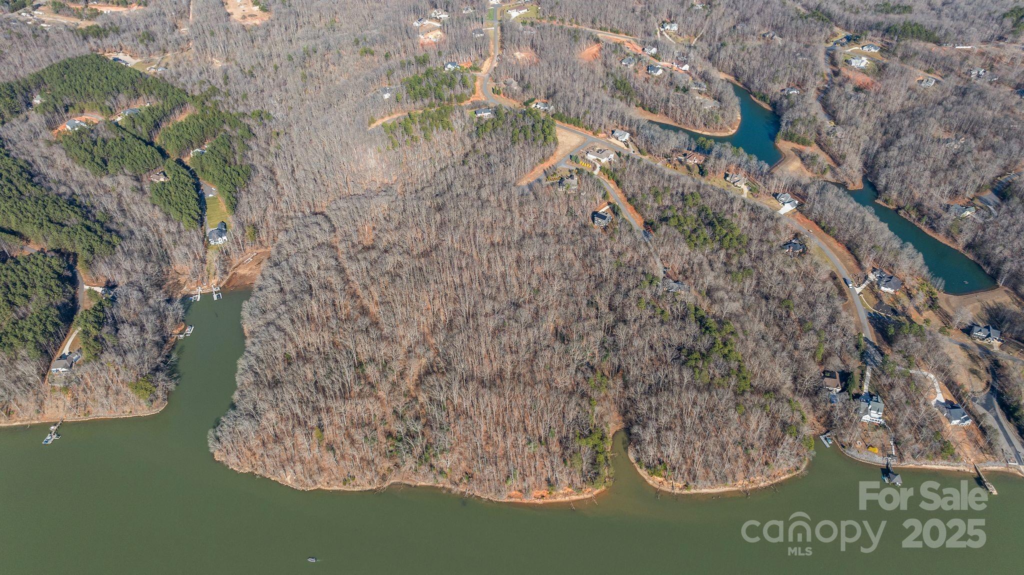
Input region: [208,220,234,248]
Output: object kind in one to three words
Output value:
house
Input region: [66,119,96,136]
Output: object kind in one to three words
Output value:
house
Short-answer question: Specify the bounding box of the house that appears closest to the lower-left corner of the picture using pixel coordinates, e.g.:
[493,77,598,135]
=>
[51,354,86,381]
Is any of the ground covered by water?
Yes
